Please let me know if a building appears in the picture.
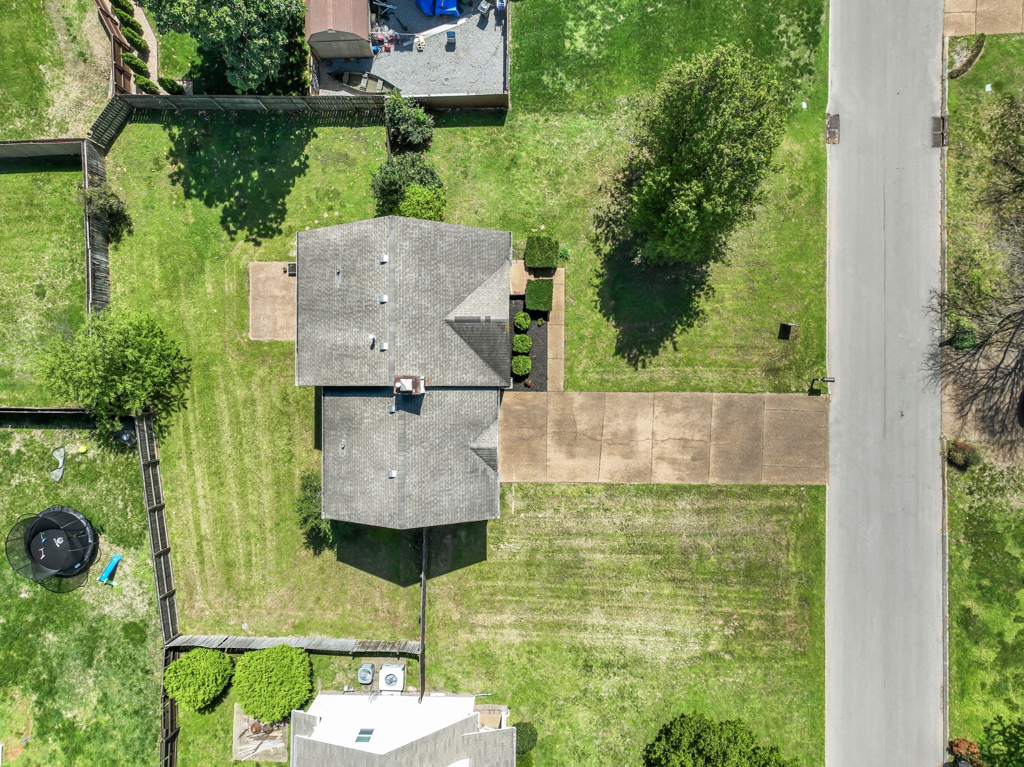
Yes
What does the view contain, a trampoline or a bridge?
trampoline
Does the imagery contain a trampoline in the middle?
No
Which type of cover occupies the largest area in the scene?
grass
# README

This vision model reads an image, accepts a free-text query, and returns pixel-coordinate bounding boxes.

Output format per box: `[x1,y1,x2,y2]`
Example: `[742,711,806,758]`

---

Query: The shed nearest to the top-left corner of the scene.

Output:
[308,0,375,58]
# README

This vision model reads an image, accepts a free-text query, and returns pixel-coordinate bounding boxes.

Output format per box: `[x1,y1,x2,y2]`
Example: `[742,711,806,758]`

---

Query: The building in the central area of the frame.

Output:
[295,215,535,531]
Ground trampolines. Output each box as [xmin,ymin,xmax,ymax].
[4,503,108,587]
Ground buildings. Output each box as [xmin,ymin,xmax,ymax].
[295,215,535,531]
[308,0,375,58]
[291,684,517,767]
